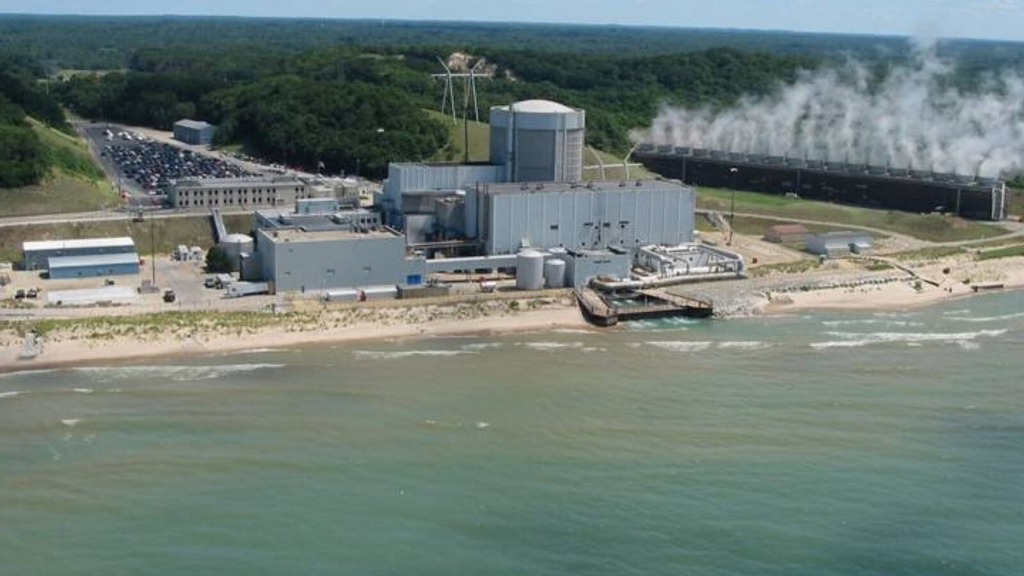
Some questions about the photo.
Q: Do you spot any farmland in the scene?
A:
No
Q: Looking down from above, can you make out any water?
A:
Yes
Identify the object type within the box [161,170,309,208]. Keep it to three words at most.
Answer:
building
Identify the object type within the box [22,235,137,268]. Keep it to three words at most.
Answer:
building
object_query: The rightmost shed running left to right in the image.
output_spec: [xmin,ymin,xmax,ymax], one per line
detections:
[795,232,876,255]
